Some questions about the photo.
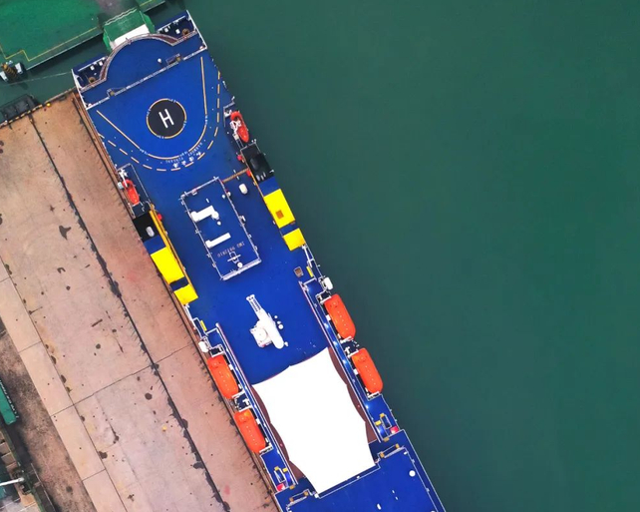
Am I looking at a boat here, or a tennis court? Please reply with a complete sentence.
Of the two, only a boat appears.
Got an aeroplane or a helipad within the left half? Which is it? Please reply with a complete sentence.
You can see a helipad within the left half.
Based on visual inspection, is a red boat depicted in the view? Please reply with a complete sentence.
Yes, the image includes a red boat.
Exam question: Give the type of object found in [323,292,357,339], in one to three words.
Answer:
boat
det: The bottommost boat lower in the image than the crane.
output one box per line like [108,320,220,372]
[232,406,267,454]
